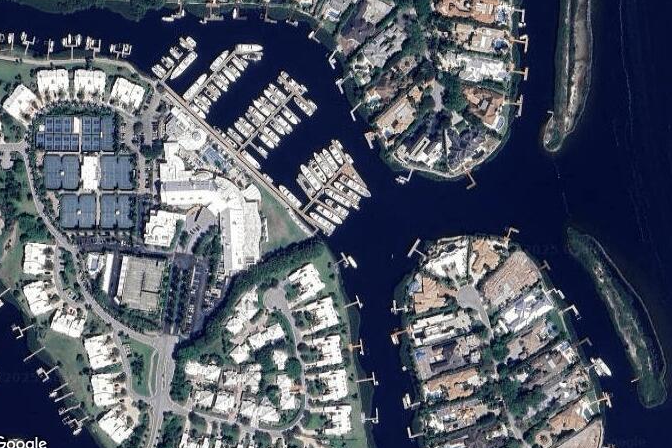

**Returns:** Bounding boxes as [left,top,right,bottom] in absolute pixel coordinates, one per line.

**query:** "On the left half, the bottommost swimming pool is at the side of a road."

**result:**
[89,254,104,274]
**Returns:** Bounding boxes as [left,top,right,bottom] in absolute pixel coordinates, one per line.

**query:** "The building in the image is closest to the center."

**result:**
[286,265,326,304]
